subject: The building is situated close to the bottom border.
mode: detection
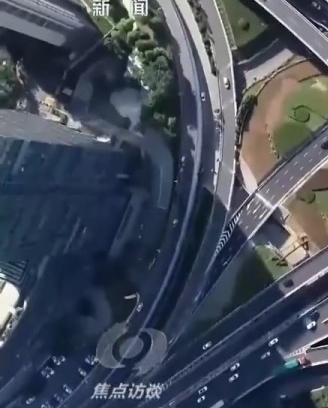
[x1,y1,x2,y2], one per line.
[16,304,142,389]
